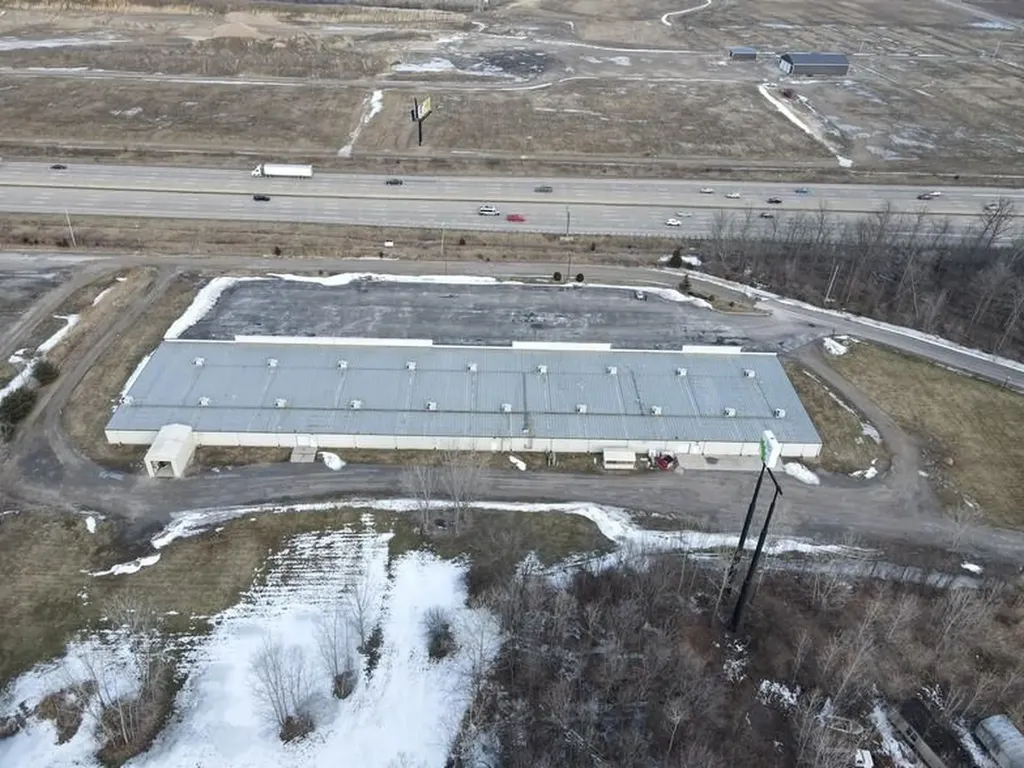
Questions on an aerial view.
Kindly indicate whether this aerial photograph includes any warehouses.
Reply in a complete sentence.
Yes, I can see a warehouse in this picture.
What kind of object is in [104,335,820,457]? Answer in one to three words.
warehouse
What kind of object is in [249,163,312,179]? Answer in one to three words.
vehicle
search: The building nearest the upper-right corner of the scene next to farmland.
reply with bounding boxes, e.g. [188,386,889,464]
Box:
[781,54,852,77]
